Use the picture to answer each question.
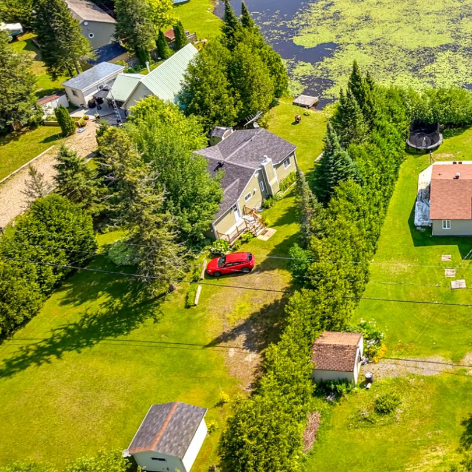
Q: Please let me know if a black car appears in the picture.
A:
No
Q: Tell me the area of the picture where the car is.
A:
center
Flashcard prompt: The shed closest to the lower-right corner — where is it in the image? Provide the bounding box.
[309,334,365,386]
